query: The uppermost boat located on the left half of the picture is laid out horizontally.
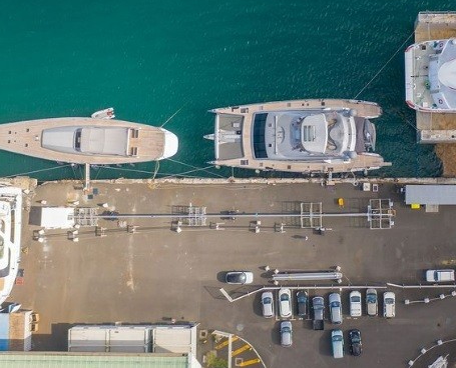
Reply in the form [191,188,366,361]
[92,105,117,117]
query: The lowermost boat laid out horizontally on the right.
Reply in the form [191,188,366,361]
[205,99,391,178]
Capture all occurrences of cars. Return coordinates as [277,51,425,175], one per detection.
[348,289,361,317]
[365,288,378,316]
[330,328,344,359]
[425,269,455,283]
[328,291,342,324]
[279,319,293,347]
[294,289,308,317]
[382,291,396,318]
[348,328,362,356]
[277,288,292,318]
[225,271,253,285]
[261,291,274,318]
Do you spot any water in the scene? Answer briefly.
Yes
